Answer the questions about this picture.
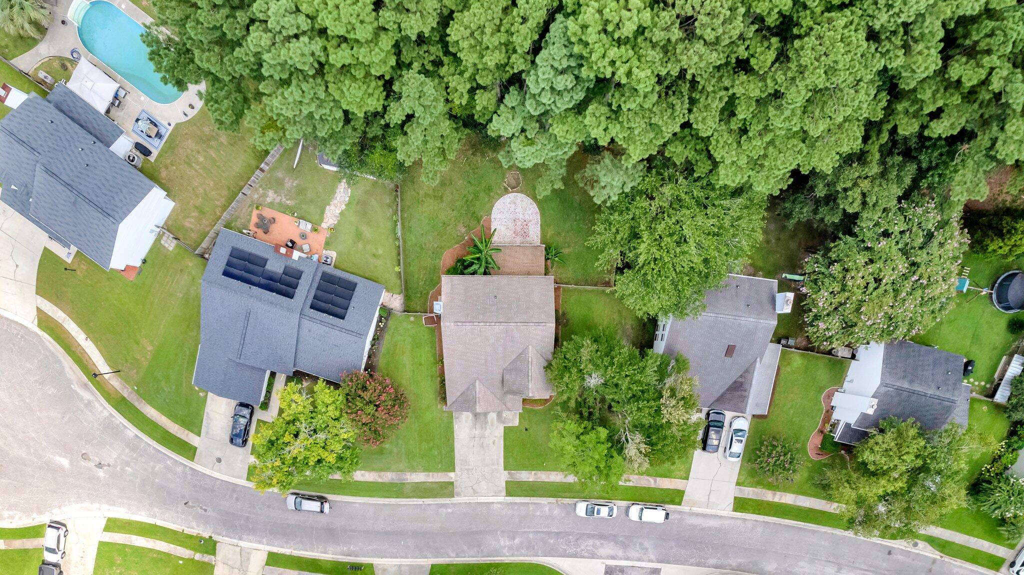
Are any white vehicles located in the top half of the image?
No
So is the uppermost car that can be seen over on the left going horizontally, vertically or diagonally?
vertically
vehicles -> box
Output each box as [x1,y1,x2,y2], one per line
[43,519,70,561]
[40,563,65,575]
[703,409,728,454]
[231,402,254,447]
[725,415,750,461]
[285,492,331,514]
[627,502,671,525]
[575,498,617,519]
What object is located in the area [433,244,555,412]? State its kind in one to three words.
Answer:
house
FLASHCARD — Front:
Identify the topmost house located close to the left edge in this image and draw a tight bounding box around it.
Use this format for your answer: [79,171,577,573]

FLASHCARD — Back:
[0,82,177,280]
